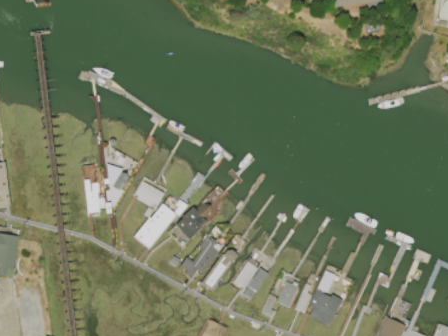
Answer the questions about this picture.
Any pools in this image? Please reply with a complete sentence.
No, no pool can be seen from above.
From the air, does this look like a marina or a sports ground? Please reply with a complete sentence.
This looks like a marina.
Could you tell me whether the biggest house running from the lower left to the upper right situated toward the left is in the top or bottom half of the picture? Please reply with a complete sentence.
It is in the bottom half that the biggest house running from the lower left to the upper right situated toward the left appears.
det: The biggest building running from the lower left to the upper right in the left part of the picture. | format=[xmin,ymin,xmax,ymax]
[134,200,188,250]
